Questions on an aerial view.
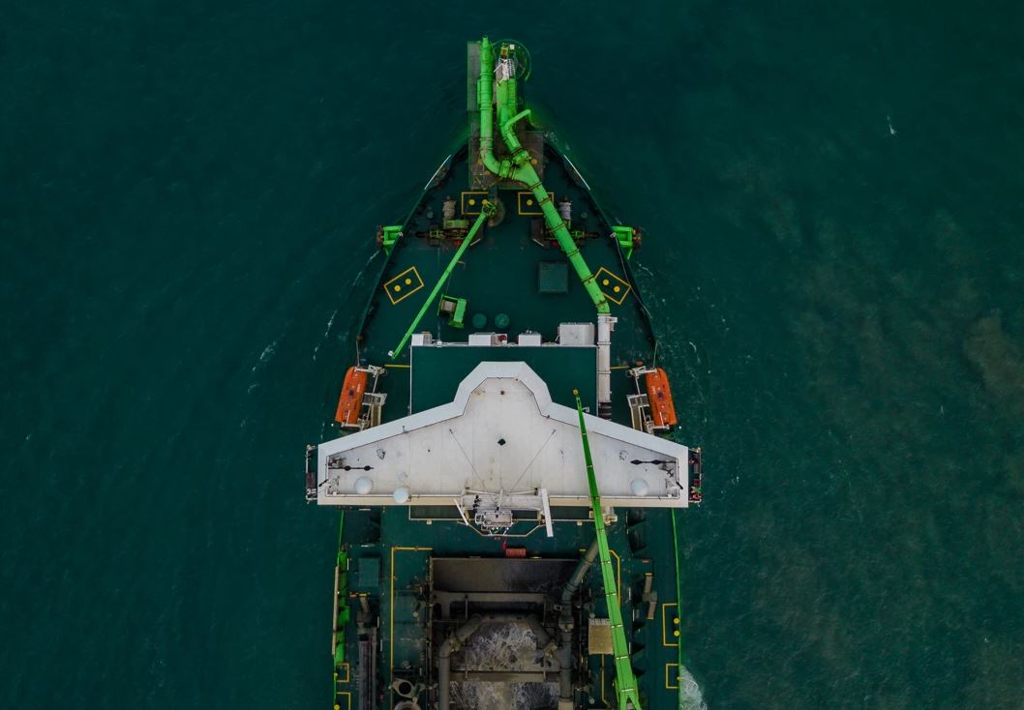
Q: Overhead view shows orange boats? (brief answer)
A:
Yes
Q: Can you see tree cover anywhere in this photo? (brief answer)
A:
No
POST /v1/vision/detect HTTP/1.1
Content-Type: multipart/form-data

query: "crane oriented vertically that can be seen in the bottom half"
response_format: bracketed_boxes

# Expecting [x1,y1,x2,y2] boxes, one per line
[573,389,648,710]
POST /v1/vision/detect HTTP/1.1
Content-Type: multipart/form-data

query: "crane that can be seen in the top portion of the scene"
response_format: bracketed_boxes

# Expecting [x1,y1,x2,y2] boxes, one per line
[388,198,506,358]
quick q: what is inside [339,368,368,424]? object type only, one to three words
boat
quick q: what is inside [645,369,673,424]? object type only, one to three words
boat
